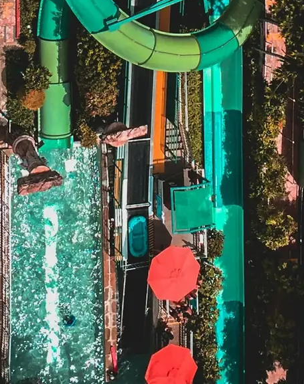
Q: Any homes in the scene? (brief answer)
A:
No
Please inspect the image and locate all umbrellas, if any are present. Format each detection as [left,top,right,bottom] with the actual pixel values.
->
[145,231,199,299]
[142,319,197,384]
